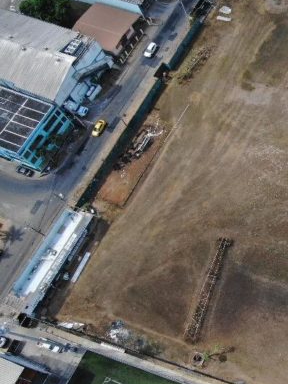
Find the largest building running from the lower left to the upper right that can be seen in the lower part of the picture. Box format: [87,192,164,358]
[12,211,93,301]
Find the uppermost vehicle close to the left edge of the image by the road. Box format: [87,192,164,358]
[13,164,34,177]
